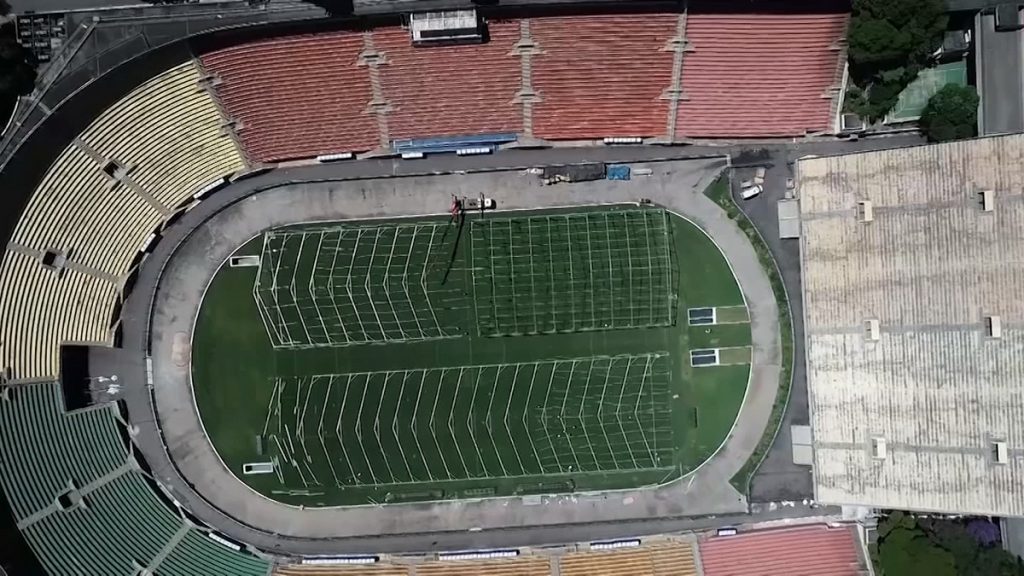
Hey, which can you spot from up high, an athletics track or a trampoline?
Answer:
athletics track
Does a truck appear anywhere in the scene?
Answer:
Yes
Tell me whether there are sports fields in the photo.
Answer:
Yes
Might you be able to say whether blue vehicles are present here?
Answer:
No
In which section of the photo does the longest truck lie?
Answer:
center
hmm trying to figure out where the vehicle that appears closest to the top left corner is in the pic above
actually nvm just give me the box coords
[423,190,495,275]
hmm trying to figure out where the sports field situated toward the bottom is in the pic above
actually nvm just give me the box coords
[191,204,752,508]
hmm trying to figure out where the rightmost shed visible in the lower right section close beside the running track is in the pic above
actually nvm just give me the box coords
[787,423,813,464]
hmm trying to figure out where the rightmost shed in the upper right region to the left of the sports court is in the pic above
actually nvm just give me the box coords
[836,114,867,133]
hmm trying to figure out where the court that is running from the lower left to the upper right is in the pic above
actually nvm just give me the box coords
[884,59,967,123]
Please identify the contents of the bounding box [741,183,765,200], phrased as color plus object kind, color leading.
white vehicle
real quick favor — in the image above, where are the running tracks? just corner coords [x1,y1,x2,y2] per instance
[148,155,781,538]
